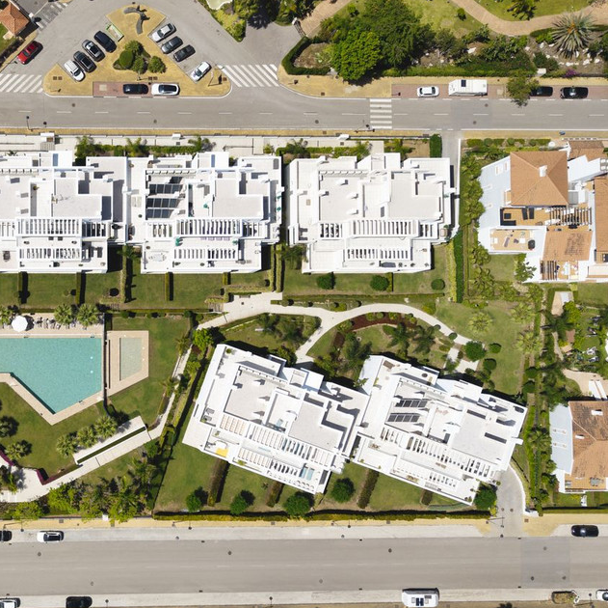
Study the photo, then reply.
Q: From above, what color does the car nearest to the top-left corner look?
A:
red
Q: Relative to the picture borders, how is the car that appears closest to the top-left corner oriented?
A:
at an angle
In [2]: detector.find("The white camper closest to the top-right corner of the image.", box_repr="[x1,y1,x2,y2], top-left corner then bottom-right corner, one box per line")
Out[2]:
[444,78,485,98]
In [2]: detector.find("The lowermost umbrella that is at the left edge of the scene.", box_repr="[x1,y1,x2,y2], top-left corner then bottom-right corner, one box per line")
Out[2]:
[11,314,28,332]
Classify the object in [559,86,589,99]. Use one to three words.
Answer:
vehicle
